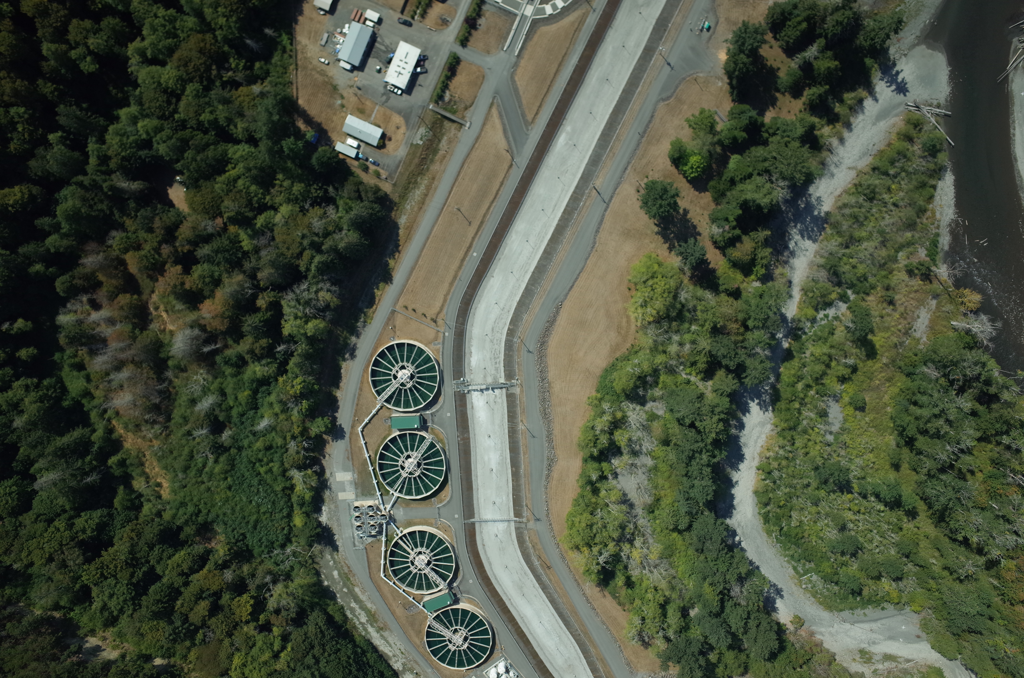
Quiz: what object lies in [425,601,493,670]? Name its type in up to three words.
storage tank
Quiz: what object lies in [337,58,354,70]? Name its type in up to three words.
vehicle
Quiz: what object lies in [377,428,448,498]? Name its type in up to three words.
storage tank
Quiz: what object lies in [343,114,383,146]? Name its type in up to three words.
house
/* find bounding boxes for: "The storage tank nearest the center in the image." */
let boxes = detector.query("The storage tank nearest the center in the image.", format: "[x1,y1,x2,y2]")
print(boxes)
[370,338,442,410]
